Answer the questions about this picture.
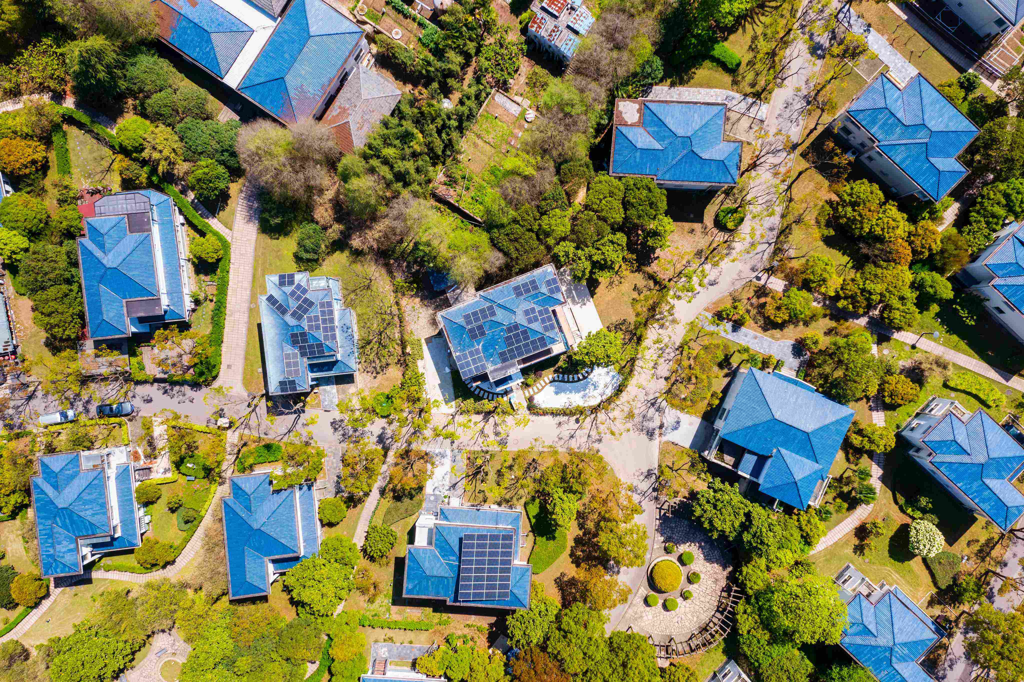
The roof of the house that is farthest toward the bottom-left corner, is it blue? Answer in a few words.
Yes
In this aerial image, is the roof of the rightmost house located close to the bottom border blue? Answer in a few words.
Yes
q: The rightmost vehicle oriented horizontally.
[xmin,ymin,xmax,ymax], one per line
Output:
[96,401,137,418]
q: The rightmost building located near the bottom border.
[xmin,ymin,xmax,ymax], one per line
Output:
[821,552,949,682]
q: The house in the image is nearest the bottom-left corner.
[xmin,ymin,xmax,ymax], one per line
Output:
[29,444,154,580]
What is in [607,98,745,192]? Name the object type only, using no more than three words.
house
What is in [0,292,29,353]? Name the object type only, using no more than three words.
building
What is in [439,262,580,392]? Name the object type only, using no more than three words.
house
